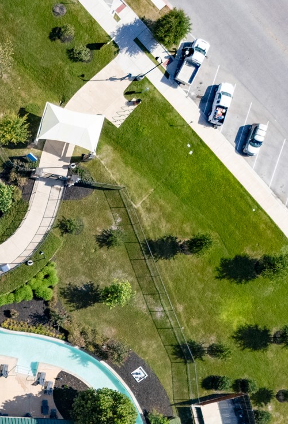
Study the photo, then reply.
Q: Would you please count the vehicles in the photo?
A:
3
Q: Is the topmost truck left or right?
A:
right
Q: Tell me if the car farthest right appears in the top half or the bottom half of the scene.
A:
top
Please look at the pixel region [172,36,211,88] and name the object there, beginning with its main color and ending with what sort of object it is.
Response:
white truck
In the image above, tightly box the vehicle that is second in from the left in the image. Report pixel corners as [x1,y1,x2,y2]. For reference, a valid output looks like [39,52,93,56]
[205,80,236,131]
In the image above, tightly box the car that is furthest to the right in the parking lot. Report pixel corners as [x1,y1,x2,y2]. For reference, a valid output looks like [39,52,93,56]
[238,118,270,161]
